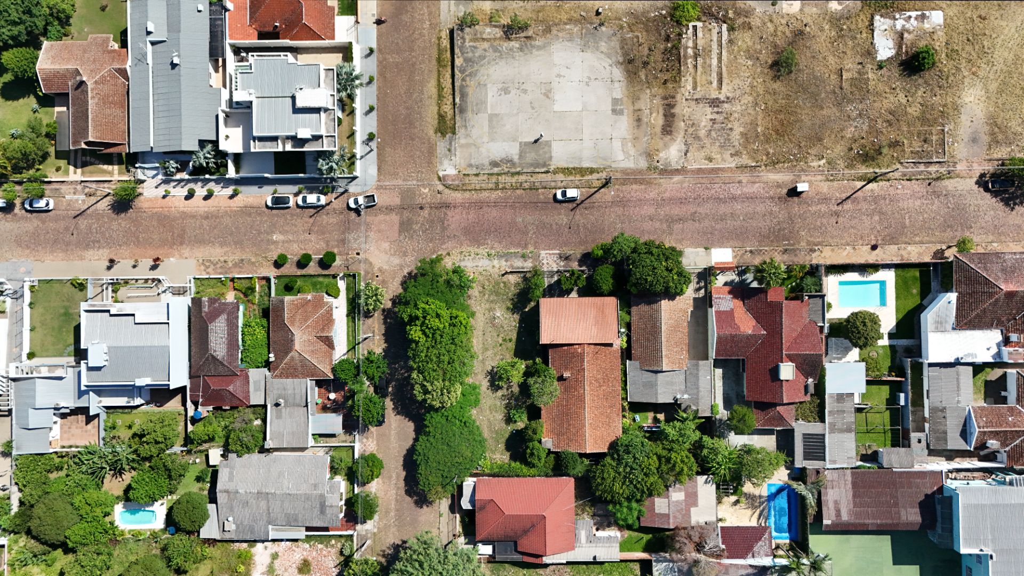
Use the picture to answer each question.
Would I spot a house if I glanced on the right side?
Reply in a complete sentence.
Yes, I can see a house on the right side.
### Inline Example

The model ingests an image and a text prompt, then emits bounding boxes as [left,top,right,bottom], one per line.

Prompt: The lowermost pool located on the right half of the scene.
[768,483,798,540]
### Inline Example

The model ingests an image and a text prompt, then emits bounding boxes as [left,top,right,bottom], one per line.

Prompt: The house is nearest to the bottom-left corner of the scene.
[8,361,97,453]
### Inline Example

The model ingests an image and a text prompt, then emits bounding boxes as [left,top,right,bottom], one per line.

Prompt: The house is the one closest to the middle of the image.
[540,297,619,344]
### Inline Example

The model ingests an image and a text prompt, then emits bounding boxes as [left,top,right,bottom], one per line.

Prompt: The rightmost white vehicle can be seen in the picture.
[553,188,580,202]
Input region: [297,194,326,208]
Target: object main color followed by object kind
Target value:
white car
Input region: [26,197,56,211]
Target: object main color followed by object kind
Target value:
white car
